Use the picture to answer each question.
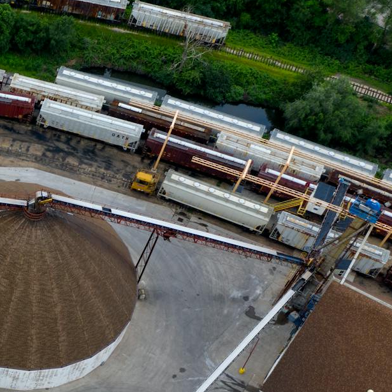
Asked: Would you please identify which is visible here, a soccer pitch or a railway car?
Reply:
railway car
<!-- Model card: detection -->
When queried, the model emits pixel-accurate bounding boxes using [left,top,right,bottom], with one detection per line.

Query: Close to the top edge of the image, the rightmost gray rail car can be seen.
[125,1,227,47]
